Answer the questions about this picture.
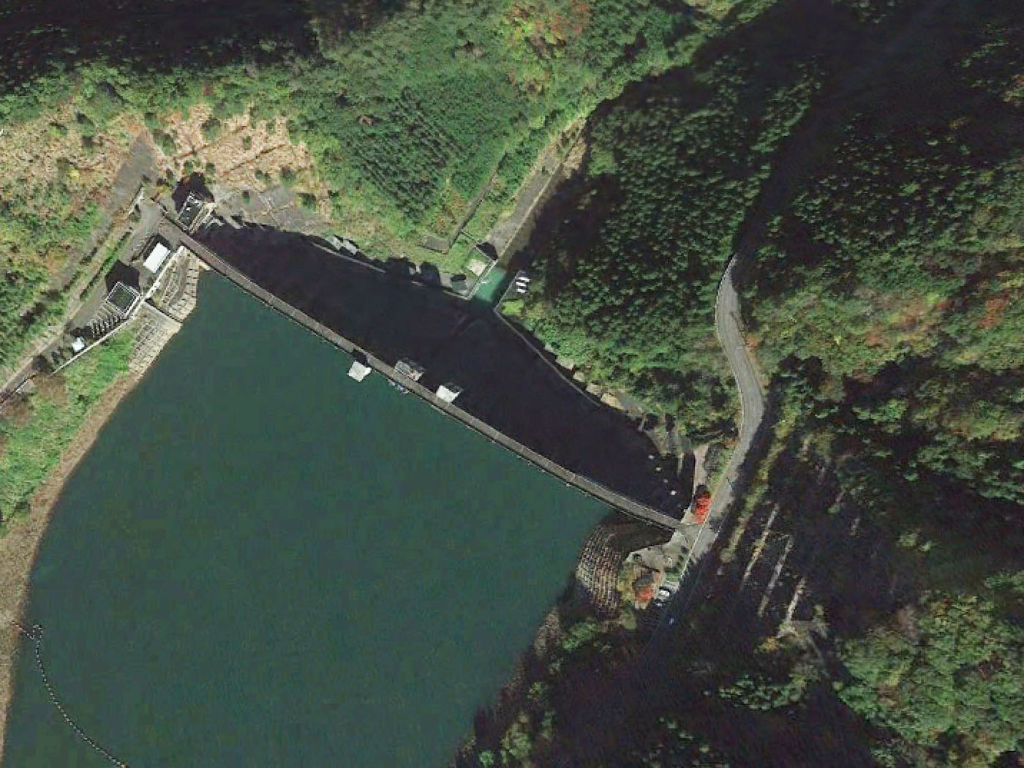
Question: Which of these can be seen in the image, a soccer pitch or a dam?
dam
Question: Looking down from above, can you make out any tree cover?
Yes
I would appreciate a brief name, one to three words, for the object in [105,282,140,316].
building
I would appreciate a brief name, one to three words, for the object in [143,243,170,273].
building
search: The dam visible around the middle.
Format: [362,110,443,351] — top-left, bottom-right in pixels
[160,215,683,535]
